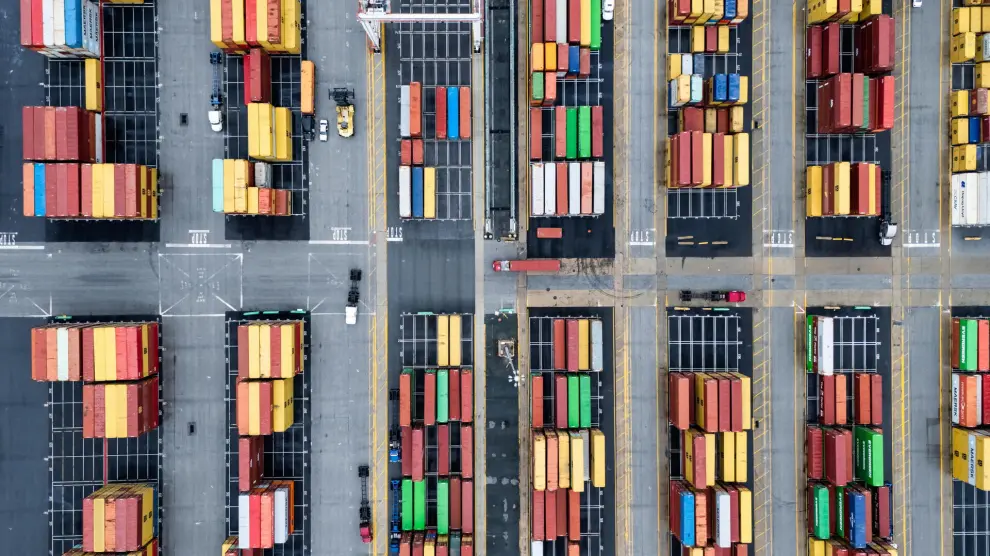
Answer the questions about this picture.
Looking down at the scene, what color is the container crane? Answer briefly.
white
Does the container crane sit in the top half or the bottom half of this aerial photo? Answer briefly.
top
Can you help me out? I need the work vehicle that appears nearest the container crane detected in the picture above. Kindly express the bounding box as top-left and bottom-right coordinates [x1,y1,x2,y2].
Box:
[328,89,355,136]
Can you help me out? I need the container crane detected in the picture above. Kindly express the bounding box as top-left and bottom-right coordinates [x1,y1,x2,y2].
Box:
[356,0,485,52]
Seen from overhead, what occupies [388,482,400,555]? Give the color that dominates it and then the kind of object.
blue vehicle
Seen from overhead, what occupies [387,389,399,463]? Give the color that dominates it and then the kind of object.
blue vehicle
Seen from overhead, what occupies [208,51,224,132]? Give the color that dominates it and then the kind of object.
white vehicle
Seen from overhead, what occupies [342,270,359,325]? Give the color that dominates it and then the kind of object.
white vehicle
